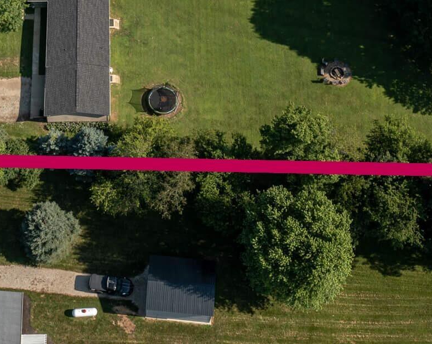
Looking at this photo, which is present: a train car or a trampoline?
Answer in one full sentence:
Of the two, only a trampoline appears.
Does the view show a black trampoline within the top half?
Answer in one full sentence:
Yes, looking within the top half, one can make out a black trampoline.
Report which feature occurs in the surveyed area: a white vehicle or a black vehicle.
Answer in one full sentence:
It is a black vehicle that can be seen here.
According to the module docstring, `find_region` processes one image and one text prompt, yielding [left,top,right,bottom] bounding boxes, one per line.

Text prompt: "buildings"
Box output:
[27,0,121,124]
[145,255,215,325]
[0,292,49,344]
